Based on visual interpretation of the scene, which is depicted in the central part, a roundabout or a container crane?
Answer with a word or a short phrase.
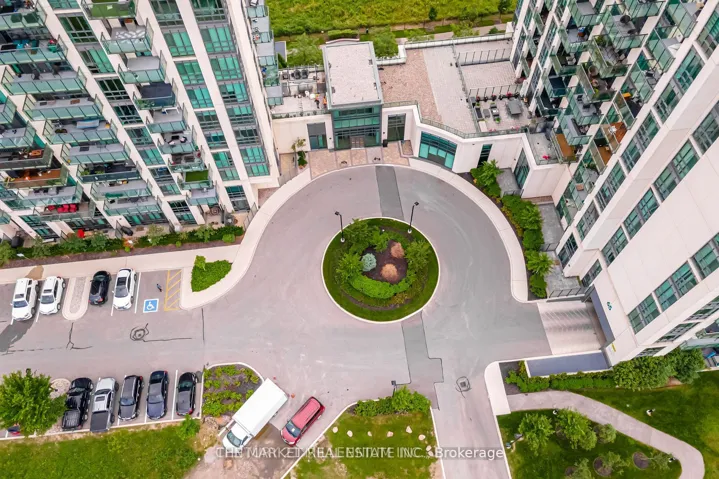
roundabout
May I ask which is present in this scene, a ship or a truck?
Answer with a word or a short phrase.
truck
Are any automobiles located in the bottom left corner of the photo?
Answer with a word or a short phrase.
Yes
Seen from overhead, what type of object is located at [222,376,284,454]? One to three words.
truck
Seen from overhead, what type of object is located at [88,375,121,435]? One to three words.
truck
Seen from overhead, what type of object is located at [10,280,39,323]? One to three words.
car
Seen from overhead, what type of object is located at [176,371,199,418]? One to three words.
car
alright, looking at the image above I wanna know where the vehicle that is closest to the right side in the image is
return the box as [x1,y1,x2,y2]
[275,391,320,441]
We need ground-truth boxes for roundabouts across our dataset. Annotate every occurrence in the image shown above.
[322,218,440,324]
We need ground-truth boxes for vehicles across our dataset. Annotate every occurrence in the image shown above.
[112,270,137,313]
[35,277,63,319]
[10,280,39,323]
[275,391,320,441]
[4,416,29,437]
[222,376,284,454]
[60,376,93,436]
[143,369,169,421]
[88,375,121,435]
[116,374,144,424]
[176,371,199,418]
[91,270,113,309]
